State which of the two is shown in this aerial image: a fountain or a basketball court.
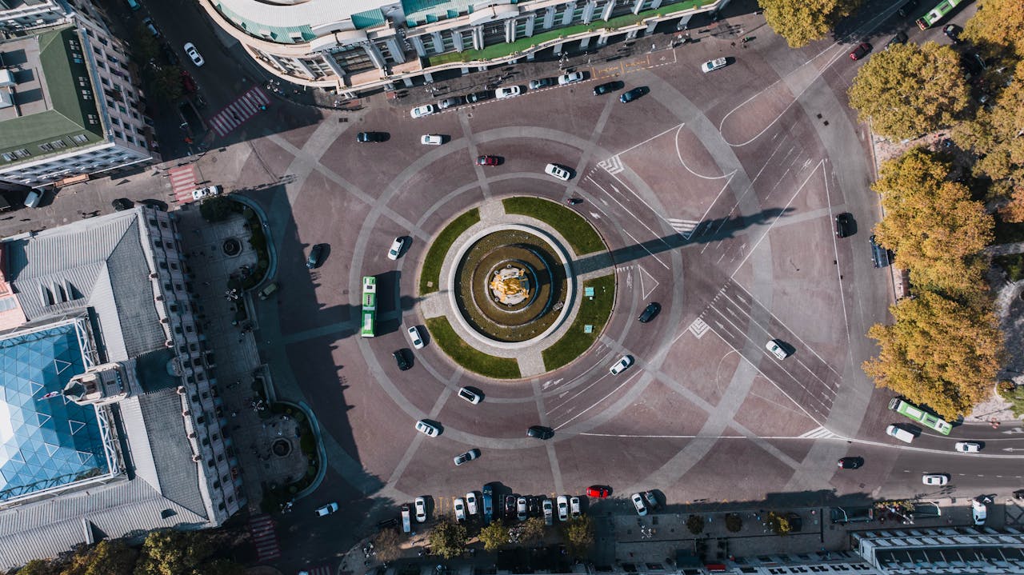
fountain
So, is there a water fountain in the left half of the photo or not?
Yes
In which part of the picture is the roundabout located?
center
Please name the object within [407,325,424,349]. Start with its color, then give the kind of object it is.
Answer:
white car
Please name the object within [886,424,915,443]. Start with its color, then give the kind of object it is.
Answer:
white vehicle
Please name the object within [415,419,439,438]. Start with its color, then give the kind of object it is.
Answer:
white car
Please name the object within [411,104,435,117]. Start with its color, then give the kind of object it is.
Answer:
white vehicle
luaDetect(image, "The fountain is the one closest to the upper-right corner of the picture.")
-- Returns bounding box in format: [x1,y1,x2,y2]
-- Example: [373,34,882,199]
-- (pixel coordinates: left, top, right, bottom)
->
[448,222,576,351]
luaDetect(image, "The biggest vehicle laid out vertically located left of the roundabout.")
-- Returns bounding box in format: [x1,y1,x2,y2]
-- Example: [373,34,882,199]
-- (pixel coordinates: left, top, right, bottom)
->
[360,276,378,339]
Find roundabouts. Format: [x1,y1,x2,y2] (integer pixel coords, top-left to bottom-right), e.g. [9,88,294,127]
[419,196,617,379]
